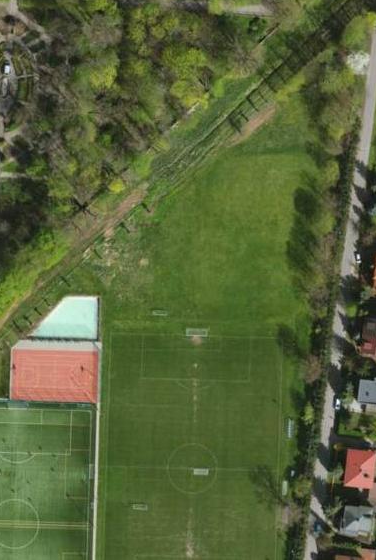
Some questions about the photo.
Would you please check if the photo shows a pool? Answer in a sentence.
No, there's no pool here.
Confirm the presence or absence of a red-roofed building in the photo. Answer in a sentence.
Yes, looking at the shot, I can spot a red-roofed building.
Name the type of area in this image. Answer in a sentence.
What you see here is a sports ground.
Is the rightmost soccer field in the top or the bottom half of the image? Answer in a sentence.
The rightmost soccer field sits in the bottom half of the picture.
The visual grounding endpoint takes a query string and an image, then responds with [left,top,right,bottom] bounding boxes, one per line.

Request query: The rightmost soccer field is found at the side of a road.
[97,327,289,560]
